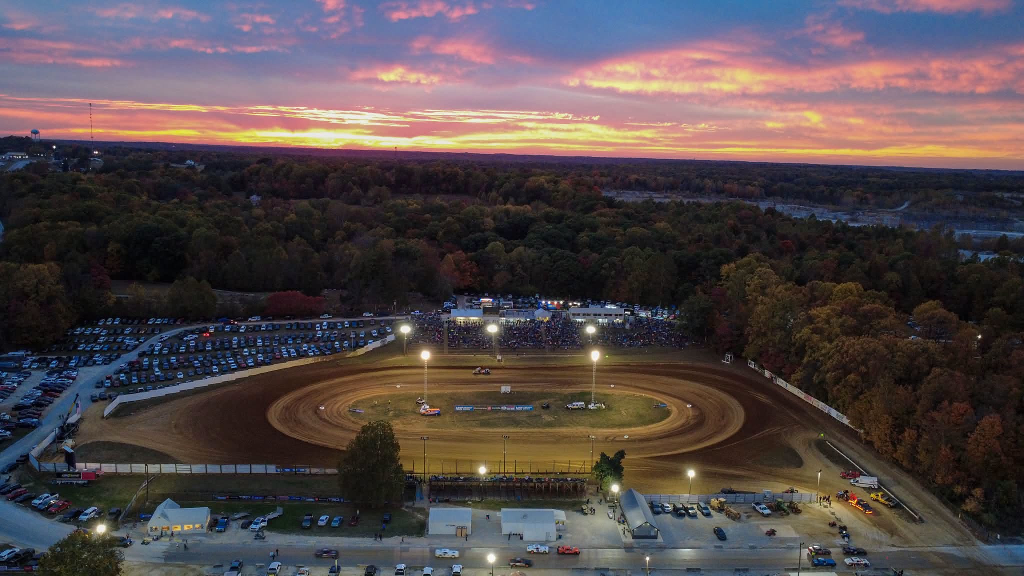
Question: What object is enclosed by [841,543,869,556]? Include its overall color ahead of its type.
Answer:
black vehicle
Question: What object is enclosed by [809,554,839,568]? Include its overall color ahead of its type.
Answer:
blue car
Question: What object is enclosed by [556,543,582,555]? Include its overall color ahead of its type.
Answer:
red vehicle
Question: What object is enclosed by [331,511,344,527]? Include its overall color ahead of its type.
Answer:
blue vehicle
